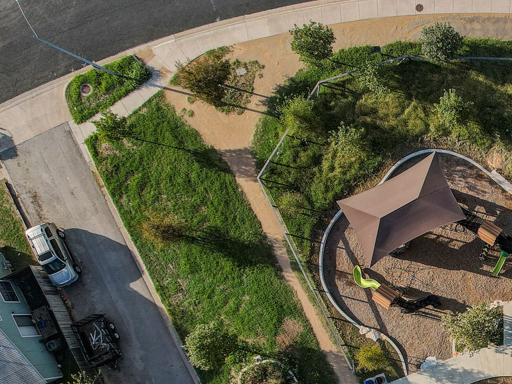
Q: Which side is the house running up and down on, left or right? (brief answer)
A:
left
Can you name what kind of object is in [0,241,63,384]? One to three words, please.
house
